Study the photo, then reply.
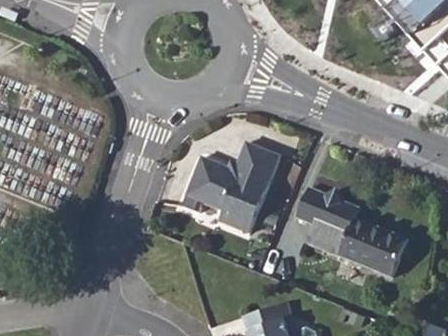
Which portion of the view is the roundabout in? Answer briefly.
top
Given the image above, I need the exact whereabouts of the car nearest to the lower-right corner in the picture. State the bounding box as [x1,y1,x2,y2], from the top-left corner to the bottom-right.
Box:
[282,256,294,277]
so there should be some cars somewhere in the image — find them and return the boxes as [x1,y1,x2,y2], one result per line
[264,250,280,272]
[386,104,409,119]
[168,108,187,126]
[398,139,420,154]
[282,256,294,277]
